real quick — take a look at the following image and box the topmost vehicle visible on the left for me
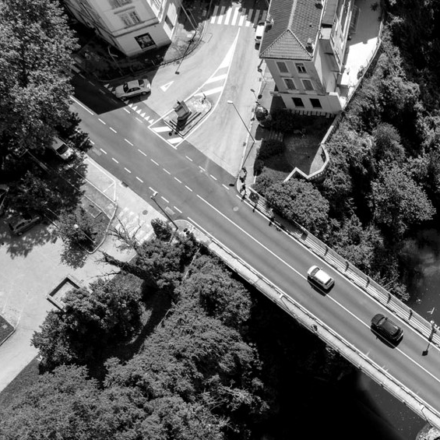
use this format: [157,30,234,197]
[112,78,151,100]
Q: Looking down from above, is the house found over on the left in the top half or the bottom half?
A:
top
